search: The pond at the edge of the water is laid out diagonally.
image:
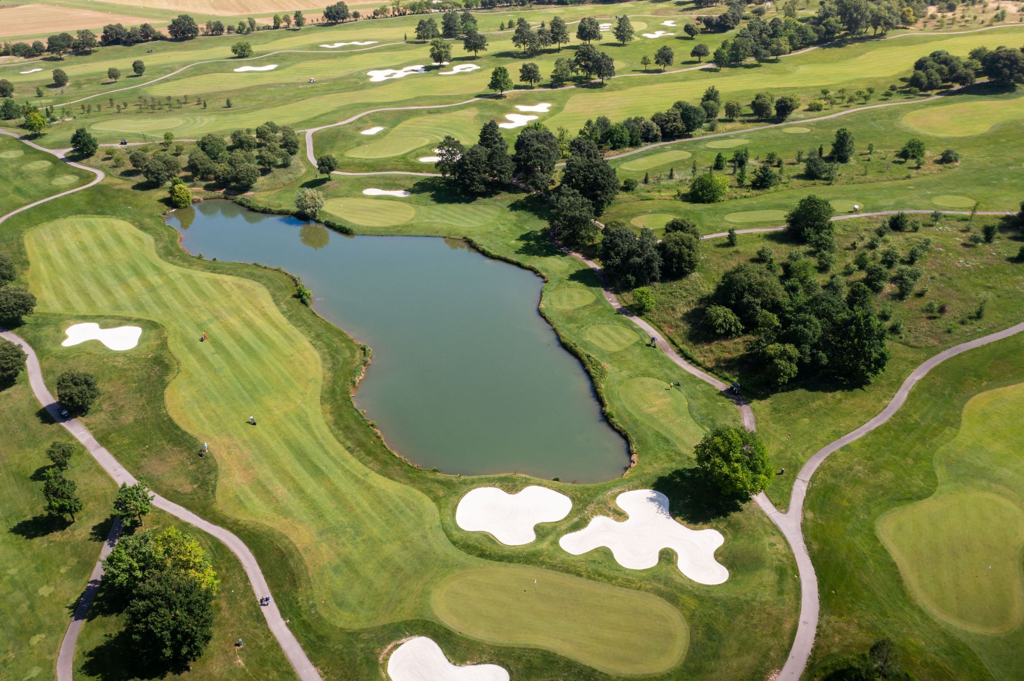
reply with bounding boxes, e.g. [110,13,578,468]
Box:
[165,199,631,485]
